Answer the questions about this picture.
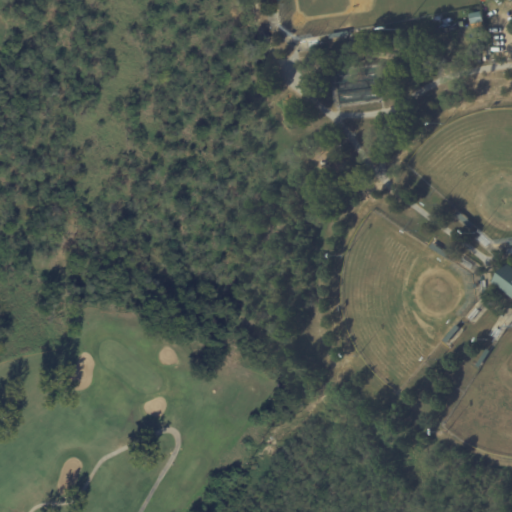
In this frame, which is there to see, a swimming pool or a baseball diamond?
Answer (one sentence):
Looking from above, you can make out a baseball diamond.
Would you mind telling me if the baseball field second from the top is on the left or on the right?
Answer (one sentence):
The baseball field second from the top is on the right side of the image.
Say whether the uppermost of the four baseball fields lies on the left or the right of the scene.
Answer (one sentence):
You can find the uppermost of the four baseball fields on the right side of the picture.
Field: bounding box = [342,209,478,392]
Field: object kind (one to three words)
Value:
baseball field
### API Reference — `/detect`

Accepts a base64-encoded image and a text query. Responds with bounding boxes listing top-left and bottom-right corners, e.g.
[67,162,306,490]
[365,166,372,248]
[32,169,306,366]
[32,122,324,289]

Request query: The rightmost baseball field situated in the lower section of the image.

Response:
[444,323,512,458]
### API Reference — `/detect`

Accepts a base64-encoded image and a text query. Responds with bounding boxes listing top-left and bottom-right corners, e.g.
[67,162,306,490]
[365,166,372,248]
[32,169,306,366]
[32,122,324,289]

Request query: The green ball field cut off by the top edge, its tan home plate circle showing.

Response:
[280,0,482,36]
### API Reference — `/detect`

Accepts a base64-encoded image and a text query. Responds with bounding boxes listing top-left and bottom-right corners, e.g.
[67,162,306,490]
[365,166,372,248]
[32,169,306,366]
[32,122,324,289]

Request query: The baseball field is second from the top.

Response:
[408,108,512,244]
